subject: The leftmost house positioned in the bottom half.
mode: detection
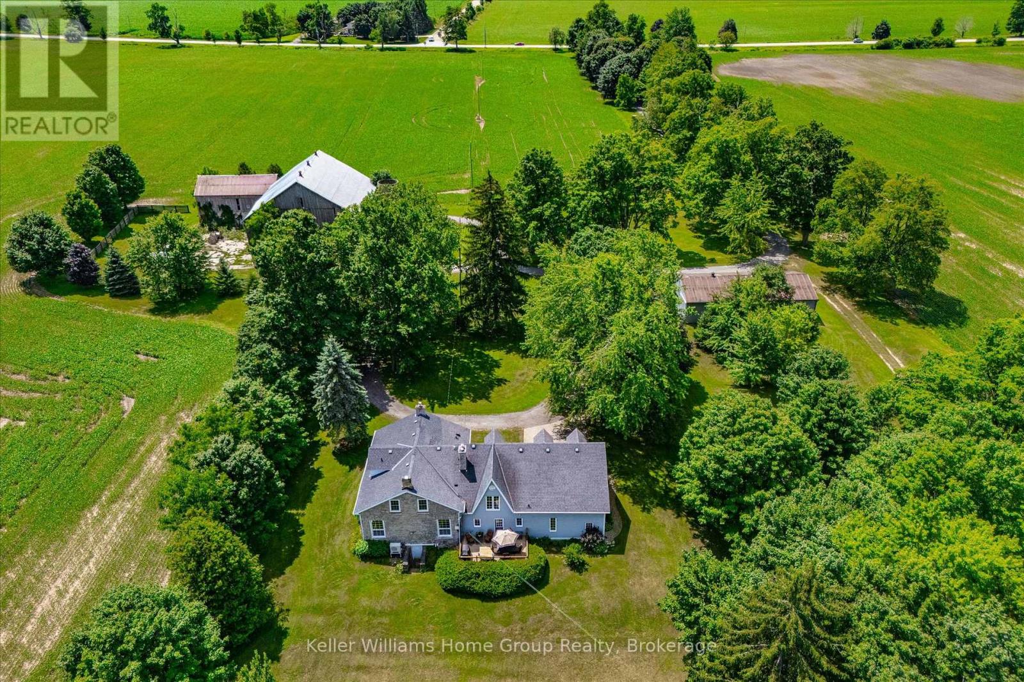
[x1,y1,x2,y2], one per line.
[352,404,611,563]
